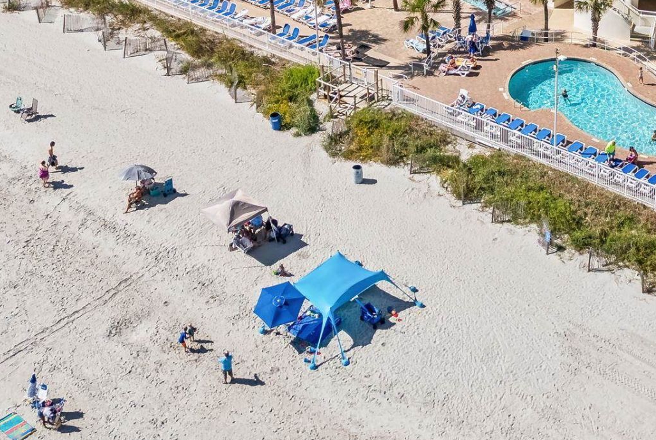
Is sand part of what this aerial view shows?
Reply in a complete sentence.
Yes, there is sand in the image.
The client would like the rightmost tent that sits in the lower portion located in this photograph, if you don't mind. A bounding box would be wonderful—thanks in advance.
[288,252,423,367]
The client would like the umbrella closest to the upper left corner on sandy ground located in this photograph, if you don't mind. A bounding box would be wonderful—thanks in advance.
[116,170,155,193]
